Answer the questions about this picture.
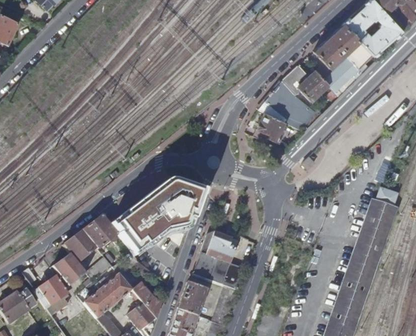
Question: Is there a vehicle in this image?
Yes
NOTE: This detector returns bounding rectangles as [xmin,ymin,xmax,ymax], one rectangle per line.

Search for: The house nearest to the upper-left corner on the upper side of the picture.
[0,14,20,47]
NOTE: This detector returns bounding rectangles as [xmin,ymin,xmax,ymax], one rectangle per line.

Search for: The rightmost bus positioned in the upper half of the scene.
[384,102,409,127]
